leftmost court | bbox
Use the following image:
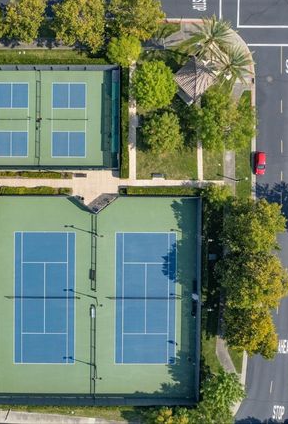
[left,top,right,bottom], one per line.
[0,70,41,168]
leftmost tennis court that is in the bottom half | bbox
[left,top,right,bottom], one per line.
[0,194,94,399]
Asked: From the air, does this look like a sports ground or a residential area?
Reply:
sports ground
